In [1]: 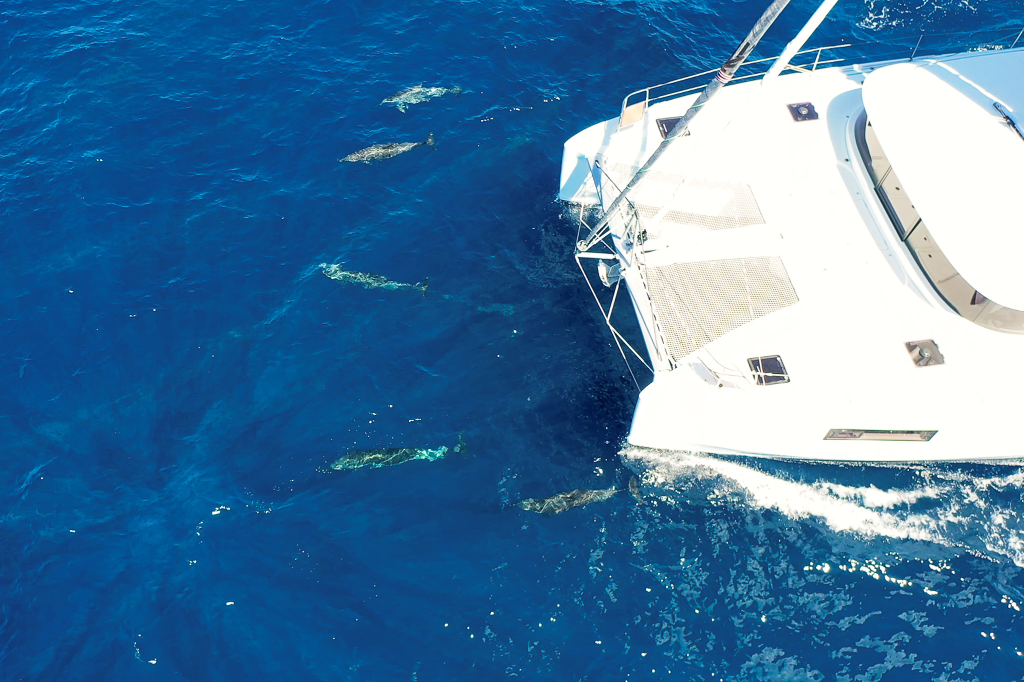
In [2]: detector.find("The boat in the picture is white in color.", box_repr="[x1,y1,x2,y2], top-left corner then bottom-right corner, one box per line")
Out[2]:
[561,0,1024,461]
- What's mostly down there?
water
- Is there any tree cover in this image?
No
